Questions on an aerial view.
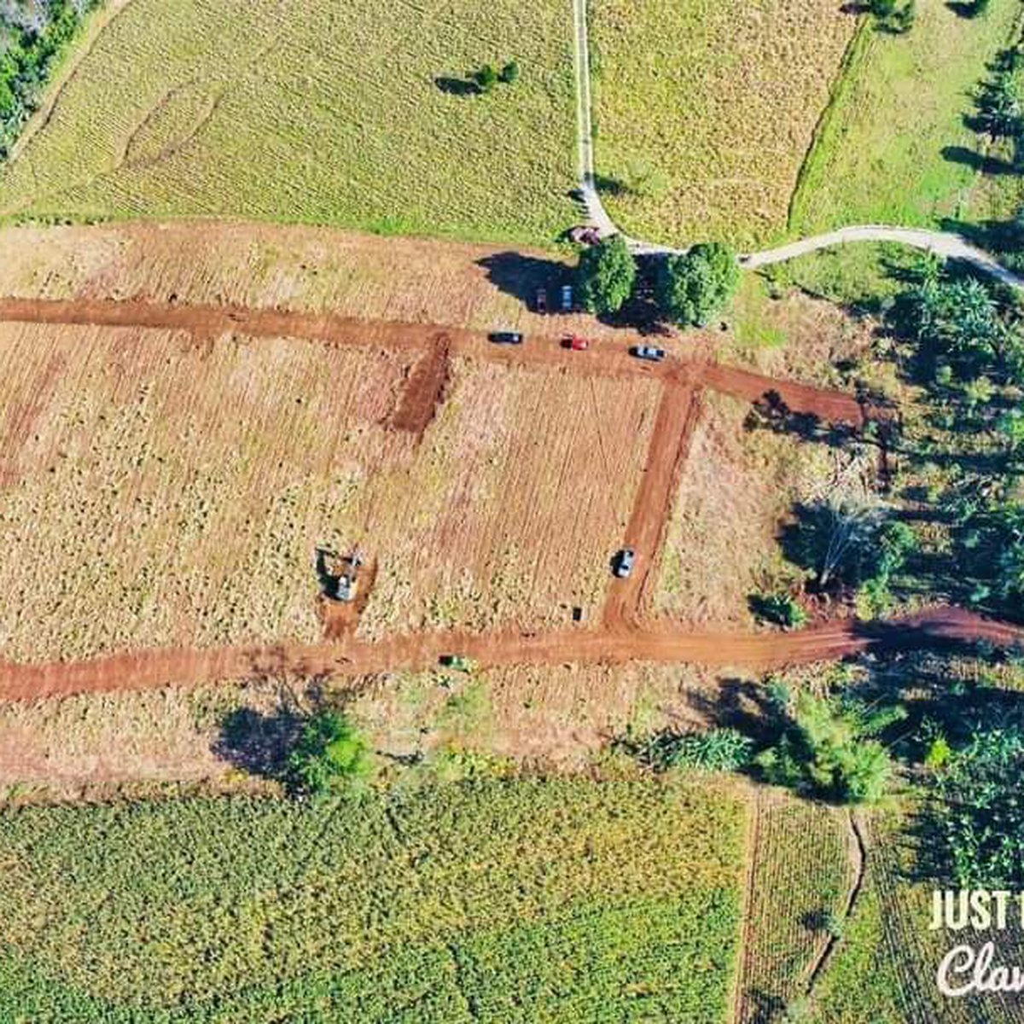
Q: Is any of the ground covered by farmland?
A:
Yes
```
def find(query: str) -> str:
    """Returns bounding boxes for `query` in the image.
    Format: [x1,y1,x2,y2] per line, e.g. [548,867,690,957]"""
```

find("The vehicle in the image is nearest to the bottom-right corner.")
[618,547,637,578]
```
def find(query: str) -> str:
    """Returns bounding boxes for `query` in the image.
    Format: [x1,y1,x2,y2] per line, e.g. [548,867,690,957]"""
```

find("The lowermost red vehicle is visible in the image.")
[566,339,587,351]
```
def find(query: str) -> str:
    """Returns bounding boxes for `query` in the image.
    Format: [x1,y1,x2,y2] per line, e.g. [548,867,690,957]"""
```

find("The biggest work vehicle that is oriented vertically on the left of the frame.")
[340,552,358,599]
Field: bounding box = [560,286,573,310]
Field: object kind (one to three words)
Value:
vehicle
